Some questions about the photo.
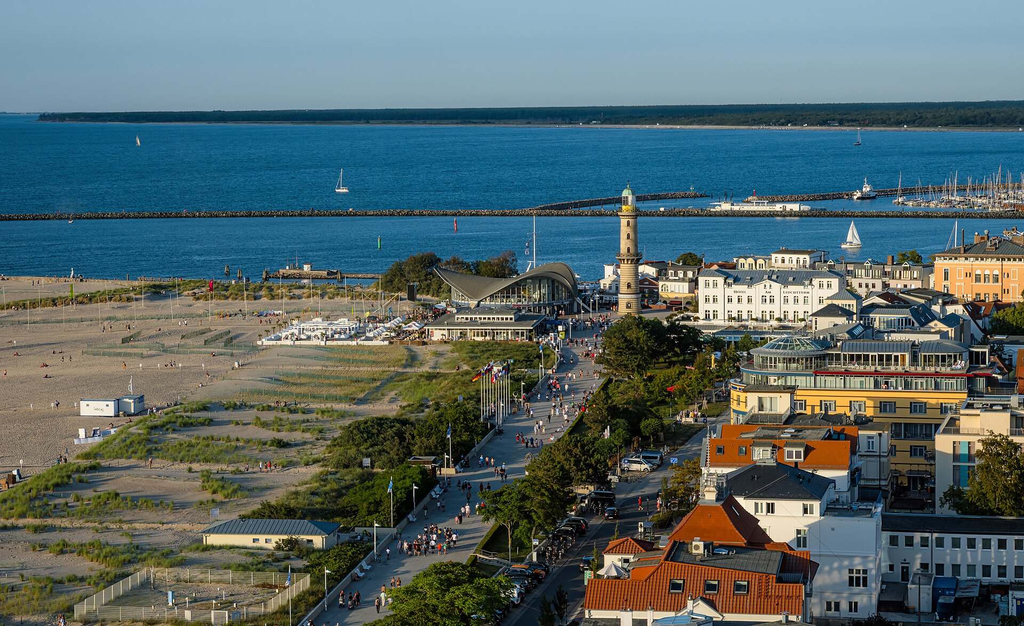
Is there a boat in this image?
Yes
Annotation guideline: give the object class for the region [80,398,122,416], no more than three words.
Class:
building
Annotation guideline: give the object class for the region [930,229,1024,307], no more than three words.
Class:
building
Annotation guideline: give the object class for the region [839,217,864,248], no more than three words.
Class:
boat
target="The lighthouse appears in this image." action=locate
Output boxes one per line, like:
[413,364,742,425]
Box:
[615,181,641,314]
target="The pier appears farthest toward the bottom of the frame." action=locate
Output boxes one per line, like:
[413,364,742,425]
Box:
[268,251,386,280]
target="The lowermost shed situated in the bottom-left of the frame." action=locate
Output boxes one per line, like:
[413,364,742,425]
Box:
[197,517,347,549]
